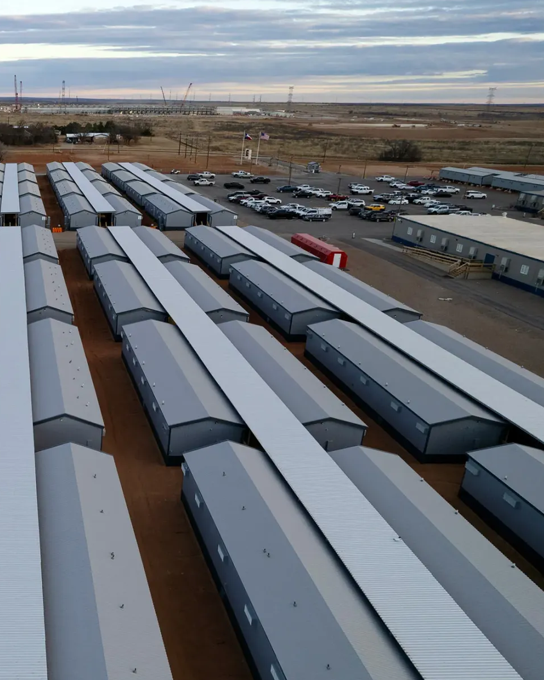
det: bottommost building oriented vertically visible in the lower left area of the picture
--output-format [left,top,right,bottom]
[33,442,174,680]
